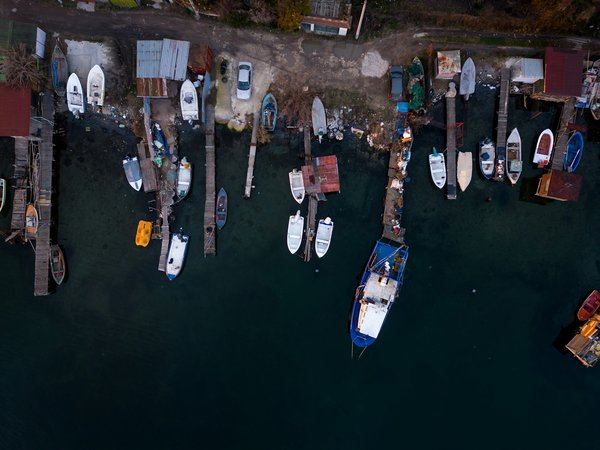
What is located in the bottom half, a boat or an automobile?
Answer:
boat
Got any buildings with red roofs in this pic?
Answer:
Yes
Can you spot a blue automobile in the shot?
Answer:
Yes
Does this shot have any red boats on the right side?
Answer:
Yes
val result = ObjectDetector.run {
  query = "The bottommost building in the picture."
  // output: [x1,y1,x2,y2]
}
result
[527,169,582,203]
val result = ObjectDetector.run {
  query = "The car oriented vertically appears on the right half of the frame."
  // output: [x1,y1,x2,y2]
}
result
[388,66,405,100]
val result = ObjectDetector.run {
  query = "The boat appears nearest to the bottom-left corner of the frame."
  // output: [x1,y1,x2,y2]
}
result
[49,244,65,286]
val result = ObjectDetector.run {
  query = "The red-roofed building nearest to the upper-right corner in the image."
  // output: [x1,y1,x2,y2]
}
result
[543,47,583,97]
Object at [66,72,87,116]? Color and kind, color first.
white boat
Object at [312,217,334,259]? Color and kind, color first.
white boat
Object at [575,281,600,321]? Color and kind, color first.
red boat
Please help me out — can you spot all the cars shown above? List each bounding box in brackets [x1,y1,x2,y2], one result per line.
[388,66,405,100]
[234,62,251,100]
